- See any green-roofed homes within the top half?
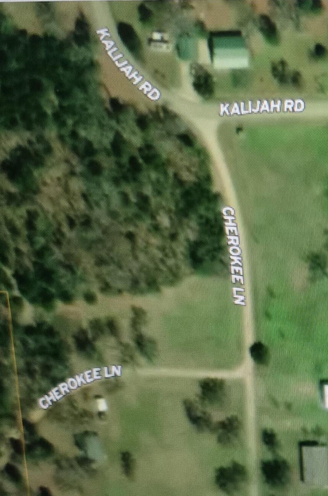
Yes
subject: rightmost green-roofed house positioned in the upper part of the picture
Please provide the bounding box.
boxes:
[210,34,249,68]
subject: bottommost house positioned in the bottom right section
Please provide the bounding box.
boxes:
[301,446,328,487]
